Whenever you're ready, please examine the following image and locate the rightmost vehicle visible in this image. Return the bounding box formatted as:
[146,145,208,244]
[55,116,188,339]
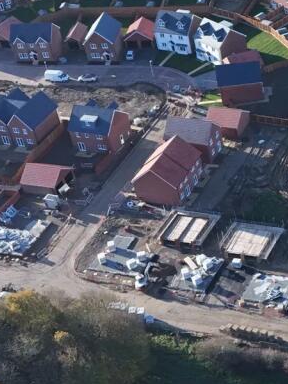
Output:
[189,103,211,116]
